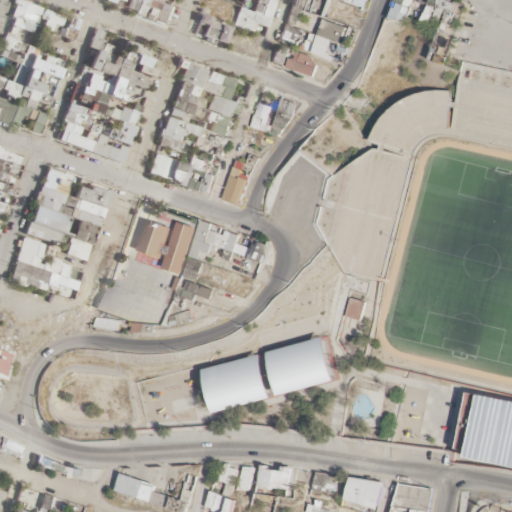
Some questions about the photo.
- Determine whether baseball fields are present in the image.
No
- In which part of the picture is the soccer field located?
right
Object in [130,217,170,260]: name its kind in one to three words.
building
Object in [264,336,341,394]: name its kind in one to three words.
building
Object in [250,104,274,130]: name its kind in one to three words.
house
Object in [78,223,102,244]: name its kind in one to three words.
house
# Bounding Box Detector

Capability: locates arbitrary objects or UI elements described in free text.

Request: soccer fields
[388,150,512,376]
